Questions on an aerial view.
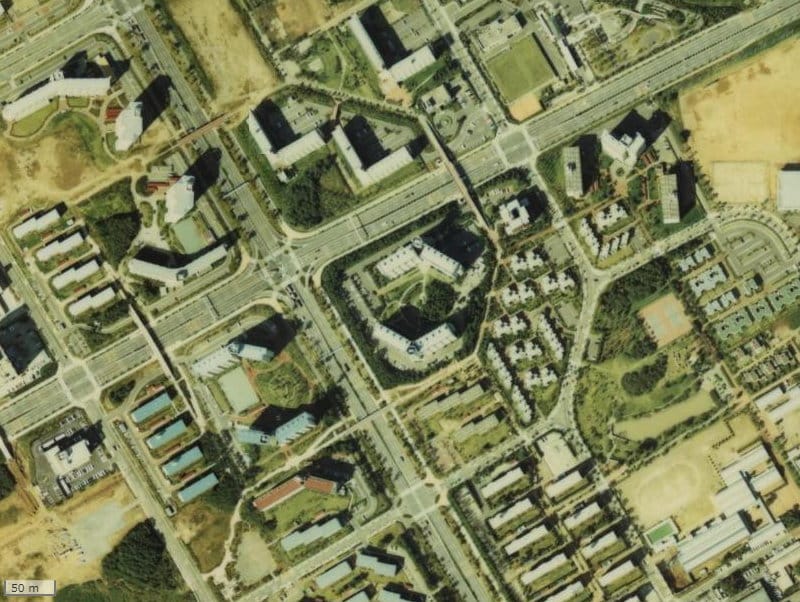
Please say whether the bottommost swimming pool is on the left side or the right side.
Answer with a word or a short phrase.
right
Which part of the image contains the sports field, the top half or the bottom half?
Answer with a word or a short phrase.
top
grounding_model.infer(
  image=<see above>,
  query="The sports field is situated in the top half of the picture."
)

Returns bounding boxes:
[486,34,555,104]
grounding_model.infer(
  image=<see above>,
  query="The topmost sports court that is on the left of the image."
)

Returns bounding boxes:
[173,213,209,254]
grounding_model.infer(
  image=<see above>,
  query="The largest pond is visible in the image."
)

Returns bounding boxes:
[611,388,717,440]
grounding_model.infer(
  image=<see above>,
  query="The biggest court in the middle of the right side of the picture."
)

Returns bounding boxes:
[640,293,689,347]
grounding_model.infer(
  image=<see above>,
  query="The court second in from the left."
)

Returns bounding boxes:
[219,366,259,413]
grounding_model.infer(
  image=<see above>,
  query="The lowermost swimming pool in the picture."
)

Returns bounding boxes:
[644,518,679,546]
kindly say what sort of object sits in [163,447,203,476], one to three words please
building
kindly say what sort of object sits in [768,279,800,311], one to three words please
house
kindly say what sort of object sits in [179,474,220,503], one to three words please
building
